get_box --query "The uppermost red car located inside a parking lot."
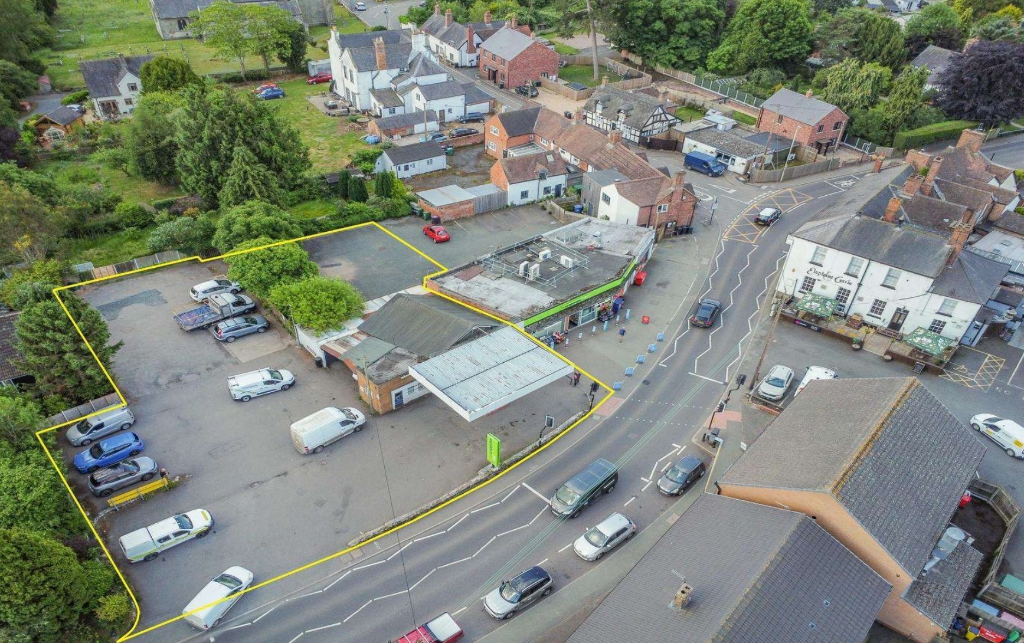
[422,221,453,244]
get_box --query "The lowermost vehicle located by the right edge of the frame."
[970,410,1024,461]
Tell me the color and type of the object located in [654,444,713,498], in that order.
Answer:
gray car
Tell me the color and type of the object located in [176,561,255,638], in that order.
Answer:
white van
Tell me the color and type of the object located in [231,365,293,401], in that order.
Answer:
white van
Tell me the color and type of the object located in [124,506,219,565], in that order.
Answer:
white truck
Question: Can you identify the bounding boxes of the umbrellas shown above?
[904,327,951,359]
[794,290,838,321]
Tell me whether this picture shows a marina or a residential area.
residential area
